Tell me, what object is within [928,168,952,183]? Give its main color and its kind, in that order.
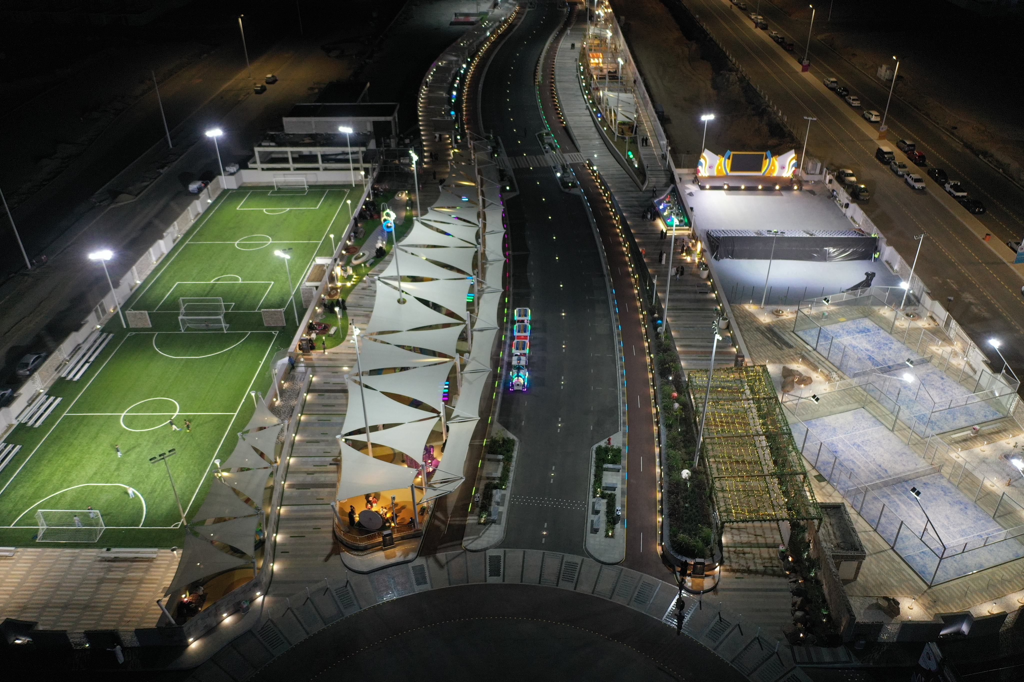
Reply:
black car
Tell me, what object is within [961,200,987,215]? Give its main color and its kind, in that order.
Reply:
black car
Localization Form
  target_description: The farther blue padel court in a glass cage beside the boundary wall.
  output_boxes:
[794,278,1024,440]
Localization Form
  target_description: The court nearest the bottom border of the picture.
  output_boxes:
[774,367,1024,587]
